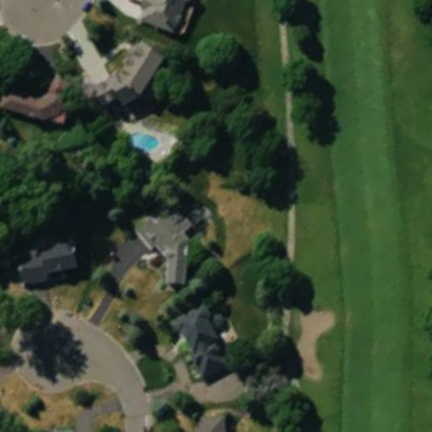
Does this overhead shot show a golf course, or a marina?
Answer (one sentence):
The picture captures a golf course.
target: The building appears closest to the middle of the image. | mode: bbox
[136,214,191,284]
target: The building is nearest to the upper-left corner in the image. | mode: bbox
[0,71,66,124]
